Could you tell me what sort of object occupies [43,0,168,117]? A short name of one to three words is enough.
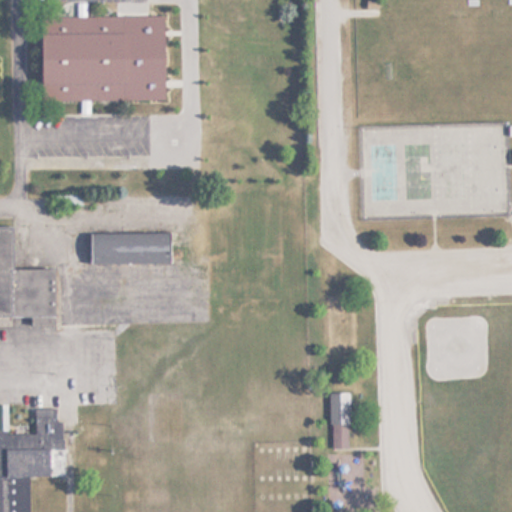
building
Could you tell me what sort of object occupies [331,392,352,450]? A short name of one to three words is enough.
house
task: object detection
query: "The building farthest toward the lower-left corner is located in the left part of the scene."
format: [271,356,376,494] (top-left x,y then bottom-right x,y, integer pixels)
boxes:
[0,408,66,512]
